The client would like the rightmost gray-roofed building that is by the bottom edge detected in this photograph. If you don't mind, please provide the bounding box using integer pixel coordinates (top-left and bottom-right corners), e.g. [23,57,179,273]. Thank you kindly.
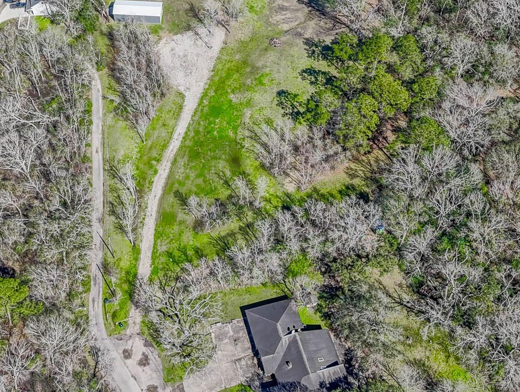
[245,298,358,392]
